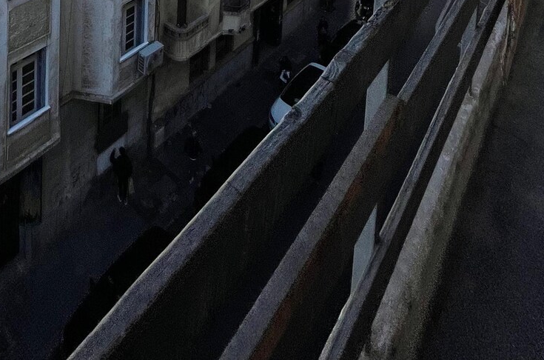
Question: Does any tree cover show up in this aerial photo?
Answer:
No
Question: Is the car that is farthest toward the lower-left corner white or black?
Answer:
black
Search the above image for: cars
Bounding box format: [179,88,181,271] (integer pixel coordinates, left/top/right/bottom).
[318,1,372,60]
[120,140,278,340]
[257,52,358,141]
[3,284,120,360]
